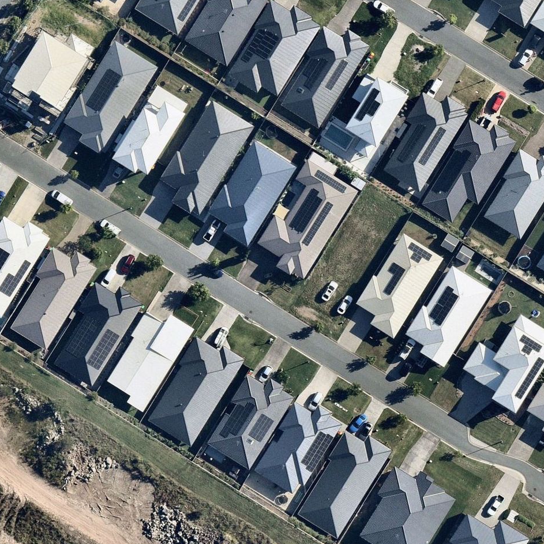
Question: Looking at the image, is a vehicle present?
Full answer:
Yes, this view includes a vehicle.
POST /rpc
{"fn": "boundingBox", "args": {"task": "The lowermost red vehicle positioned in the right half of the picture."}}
[491,91,508,112]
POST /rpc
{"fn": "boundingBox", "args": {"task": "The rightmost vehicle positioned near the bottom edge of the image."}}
[488,494,505,518]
